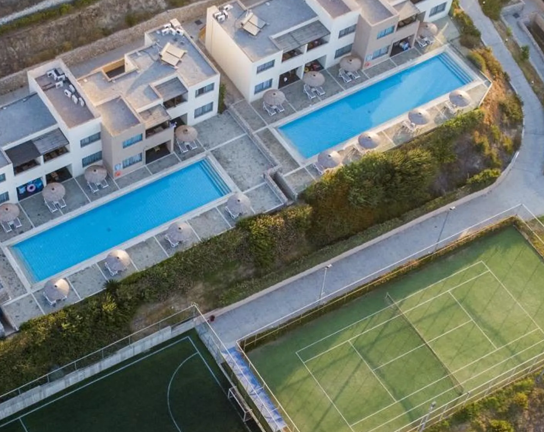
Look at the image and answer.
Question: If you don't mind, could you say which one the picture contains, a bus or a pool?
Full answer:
Visible in the photo is a pool.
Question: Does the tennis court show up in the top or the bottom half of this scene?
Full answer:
The bottom half of the photo is where the tennis court is.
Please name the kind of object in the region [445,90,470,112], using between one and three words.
umbrella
